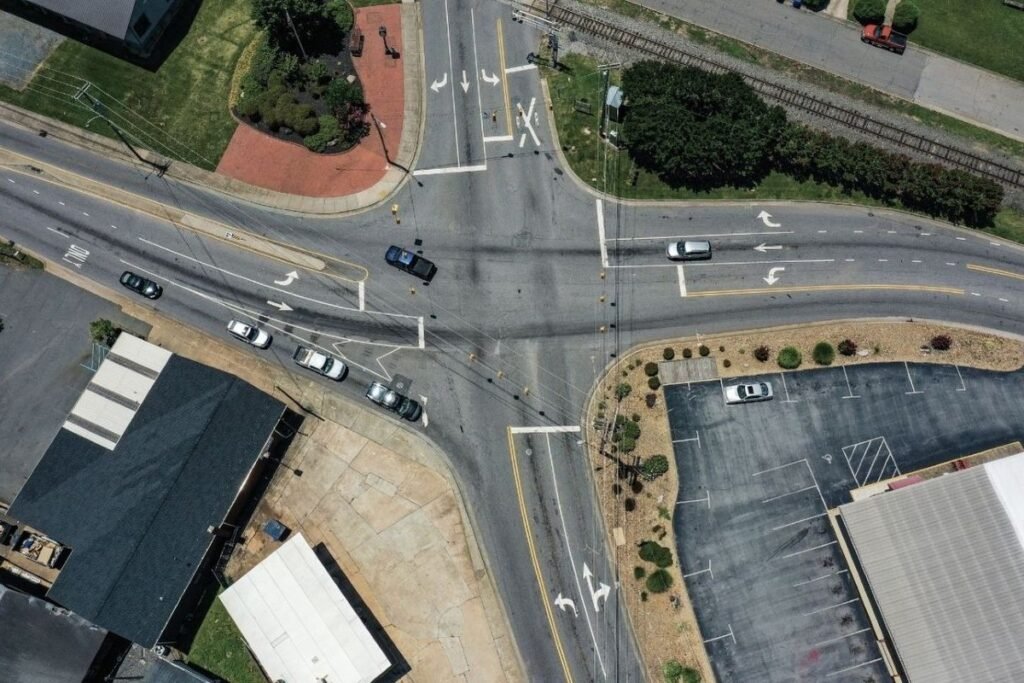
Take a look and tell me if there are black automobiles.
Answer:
Yes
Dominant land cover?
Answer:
paved ground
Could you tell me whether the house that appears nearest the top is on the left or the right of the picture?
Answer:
left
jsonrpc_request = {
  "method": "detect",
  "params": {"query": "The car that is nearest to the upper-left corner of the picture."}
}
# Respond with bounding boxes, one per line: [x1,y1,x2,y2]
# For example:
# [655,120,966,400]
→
[118,271,160,296]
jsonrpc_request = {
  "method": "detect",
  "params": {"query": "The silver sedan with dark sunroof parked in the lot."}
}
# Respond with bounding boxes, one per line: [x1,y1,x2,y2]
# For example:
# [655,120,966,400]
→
[726,380,776,403]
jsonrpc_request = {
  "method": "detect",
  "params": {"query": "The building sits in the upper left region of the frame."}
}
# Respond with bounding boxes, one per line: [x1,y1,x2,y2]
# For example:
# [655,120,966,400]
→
[29,0,202,74]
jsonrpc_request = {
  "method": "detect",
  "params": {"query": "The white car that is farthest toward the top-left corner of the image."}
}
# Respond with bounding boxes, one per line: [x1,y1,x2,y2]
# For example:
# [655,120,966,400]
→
[224,317,270,347]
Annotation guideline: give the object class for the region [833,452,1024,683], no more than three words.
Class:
building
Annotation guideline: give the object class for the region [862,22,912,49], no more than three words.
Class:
truck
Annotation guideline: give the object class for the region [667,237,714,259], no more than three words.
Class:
car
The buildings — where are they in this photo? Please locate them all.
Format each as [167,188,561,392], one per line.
[29,0,202,74]
[143,656,214,683]
[833,452,1024,683]
[4,331,291,650]
[219,533,398,683]
[608,87,623,120]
